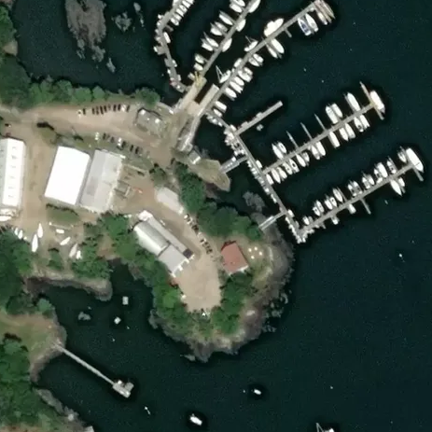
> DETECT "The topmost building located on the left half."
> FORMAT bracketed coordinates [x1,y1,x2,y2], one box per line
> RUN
[137,108,162,131]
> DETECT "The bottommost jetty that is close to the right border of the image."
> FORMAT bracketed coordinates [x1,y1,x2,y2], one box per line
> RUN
[300,152,423,238]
